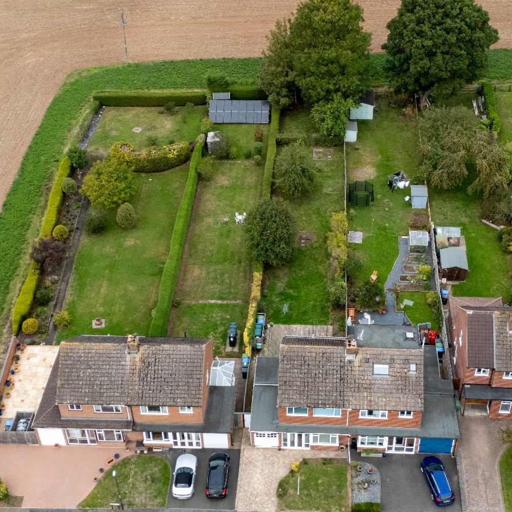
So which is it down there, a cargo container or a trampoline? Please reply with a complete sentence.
The image shows a trampoline.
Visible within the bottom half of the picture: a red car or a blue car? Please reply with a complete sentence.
You can see a blue car within the bottom half of the picture.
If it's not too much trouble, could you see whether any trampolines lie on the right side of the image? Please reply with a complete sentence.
Yes, there is a trampoline on the right side of the image.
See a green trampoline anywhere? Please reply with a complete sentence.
Yes, a green trampoline appears in the view.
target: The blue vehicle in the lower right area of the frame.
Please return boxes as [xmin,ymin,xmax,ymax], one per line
[419,456,455,506]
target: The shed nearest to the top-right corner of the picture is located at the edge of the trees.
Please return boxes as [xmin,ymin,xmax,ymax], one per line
[351,92,373,120]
